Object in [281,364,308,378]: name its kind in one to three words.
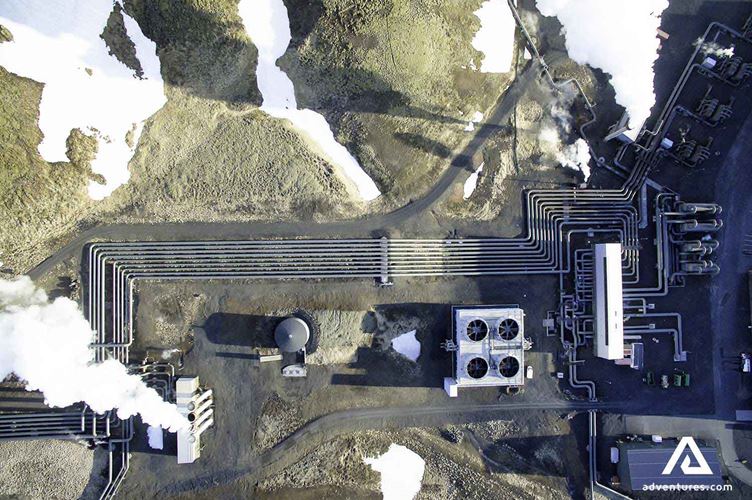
building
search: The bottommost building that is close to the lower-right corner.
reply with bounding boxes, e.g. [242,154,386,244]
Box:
[614,438,723,491]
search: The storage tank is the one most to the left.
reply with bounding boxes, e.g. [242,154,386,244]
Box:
[273,315,311,353]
